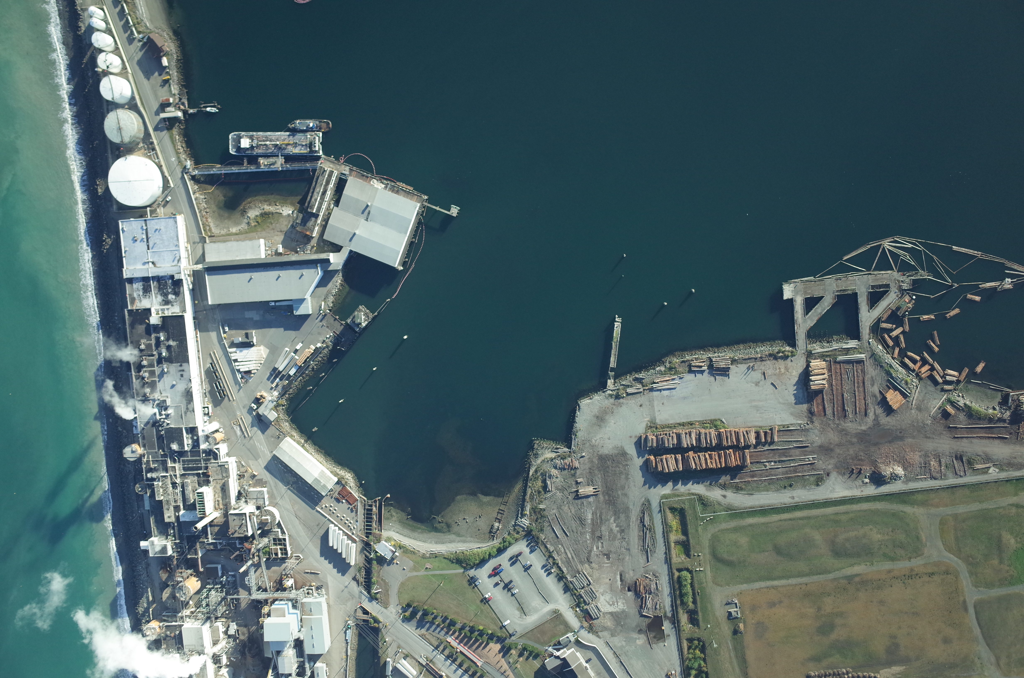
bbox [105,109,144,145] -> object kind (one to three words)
storage tank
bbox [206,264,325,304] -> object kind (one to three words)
building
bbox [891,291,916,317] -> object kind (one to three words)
ship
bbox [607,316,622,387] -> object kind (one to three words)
pier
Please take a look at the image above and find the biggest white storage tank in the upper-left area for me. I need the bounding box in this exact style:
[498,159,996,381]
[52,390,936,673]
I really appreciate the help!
[110,157,162,206]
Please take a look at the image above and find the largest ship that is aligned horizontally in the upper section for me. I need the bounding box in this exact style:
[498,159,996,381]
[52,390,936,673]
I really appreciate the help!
[229,132,324,156]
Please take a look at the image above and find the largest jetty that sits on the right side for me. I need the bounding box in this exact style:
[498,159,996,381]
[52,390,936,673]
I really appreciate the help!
[781,273,902,353]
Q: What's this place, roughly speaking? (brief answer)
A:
port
